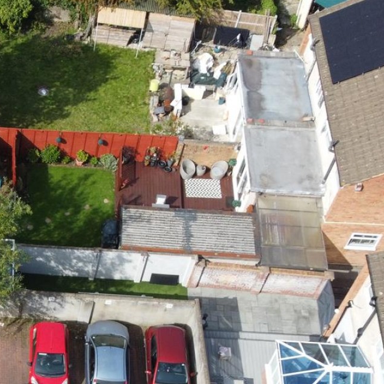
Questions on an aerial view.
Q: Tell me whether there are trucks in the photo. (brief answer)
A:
No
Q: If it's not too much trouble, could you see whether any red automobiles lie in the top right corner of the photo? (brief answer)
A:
No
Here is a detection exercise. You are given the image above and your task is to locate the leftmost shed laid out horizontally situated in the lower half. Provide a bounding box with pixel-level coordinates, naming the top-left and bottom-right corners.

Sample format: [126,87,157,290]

[117,204,259,266]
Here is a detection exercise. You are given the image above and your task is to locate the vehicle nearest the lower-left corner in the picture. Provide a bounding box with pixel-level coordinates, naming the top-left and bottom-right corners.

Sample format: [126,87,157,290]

[24,316,74,384]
